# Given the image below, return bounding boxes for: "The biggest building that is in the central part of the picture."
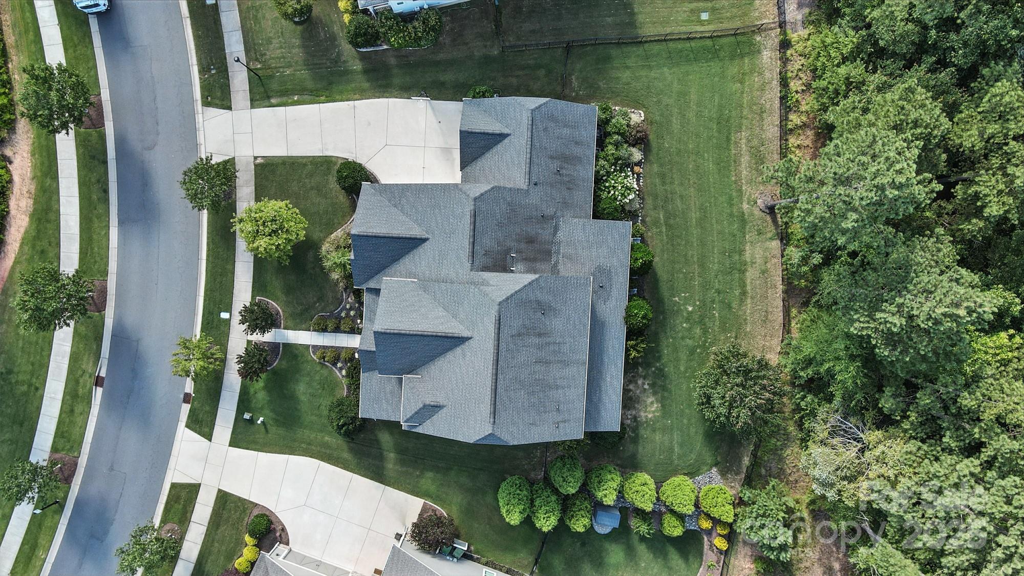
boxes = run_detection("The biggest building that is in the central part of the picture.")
[350,97,632,445]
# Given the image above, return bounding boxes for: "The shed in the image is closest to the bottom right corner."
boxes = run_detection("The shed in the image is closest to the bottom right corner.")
[595,507,620,530]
